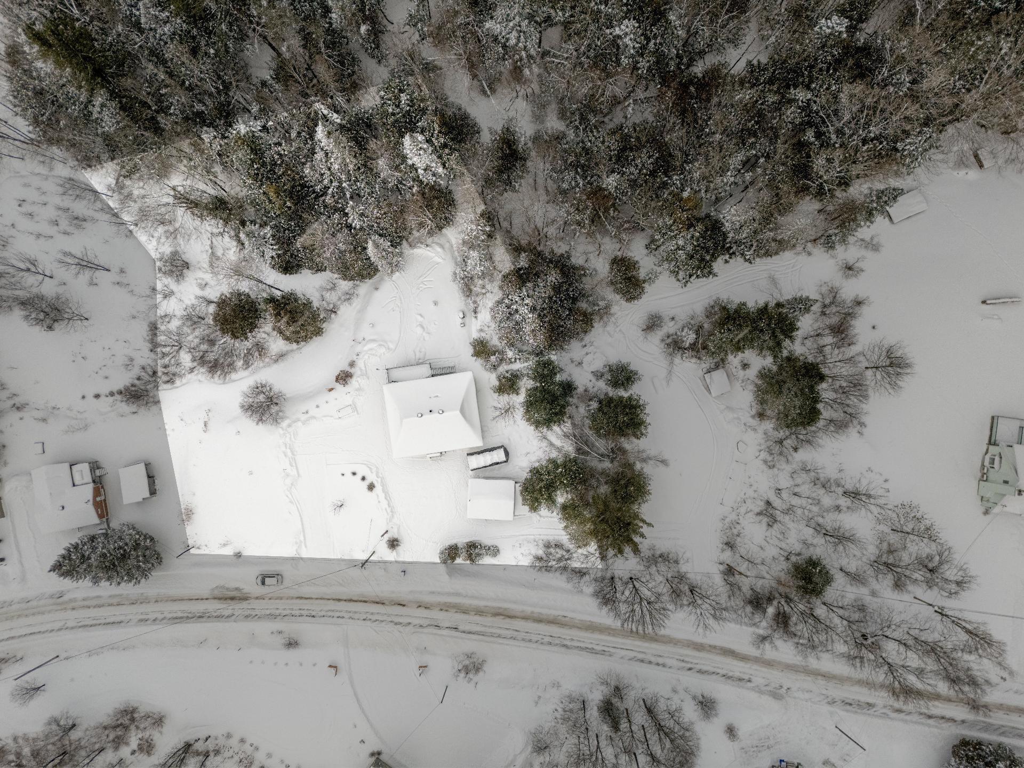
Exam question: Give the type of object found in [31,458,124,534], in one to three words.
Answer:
house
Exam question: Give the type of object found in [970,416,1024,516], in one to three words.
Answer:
building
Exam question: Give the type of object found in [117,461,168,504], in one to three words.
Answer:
shed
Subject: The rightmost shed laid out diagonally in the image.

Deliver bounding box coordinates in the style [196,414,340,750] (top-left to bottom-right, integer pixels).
[884,190,927,225]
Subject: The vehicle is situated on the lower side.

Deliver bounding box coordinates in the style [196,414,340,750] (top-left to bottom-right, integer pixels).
[255,574,281,587]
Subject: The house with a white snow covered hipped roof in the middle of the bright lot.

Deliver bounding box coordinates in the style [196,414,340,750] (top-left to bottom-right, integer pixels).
[384,362,483,458]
